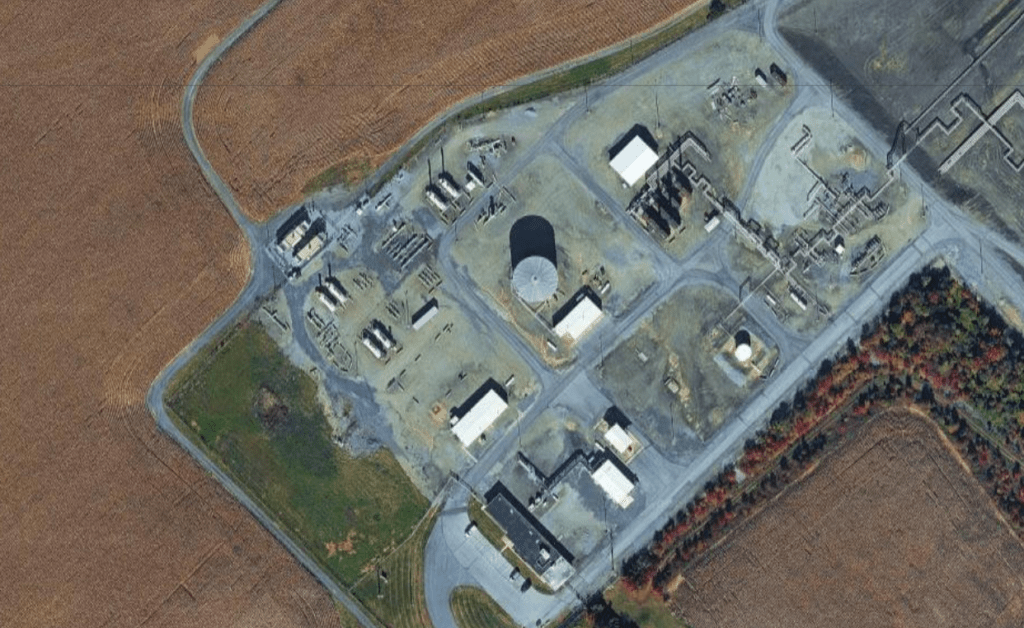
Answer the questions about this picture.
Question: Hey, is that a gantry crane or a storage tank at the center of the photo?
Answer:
storage tank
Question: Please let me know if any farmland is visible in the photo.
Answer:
Yes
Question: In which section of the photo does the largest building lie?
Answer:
bottom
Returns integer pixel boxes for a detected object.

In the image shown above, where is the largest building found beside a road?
[485,494,576,592]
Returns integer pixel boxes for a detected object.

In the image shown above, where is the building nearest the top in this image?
[609,135,659,185]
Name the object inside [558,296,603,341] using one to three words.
building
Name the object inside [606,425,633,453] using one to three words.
building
